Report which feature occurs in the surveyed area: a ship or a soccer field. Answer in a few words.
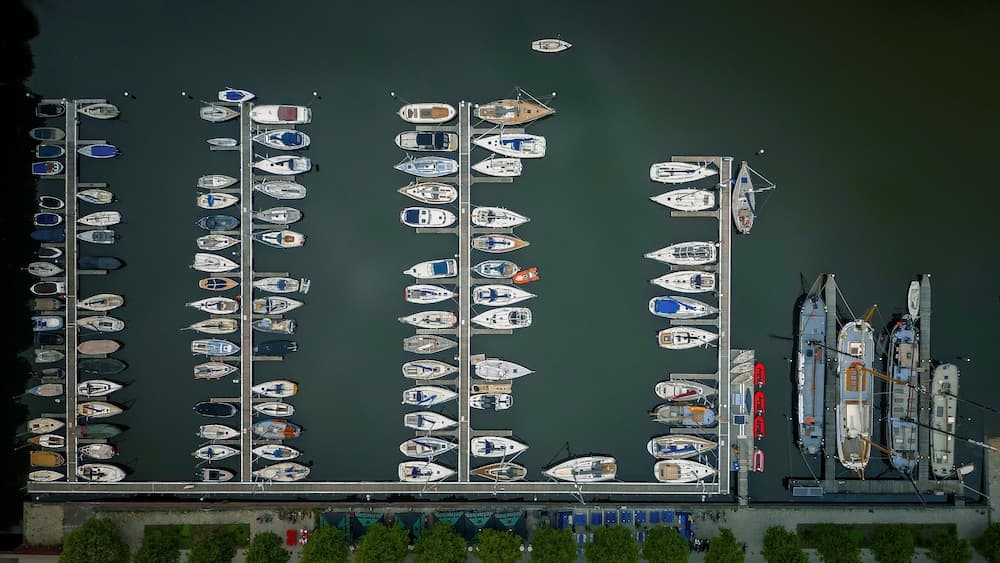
ship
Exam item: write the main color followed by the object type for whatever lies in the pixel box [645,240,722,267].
white boat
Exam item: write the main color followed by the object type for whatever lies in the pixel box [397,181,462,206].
white boat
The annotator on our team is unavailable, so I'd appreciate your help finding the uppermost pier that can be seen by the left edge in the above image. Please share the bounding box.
[41,100,108,482]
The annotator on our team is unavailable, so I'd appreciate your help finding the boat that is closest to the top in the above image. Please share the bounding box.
[532,37,572,54]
